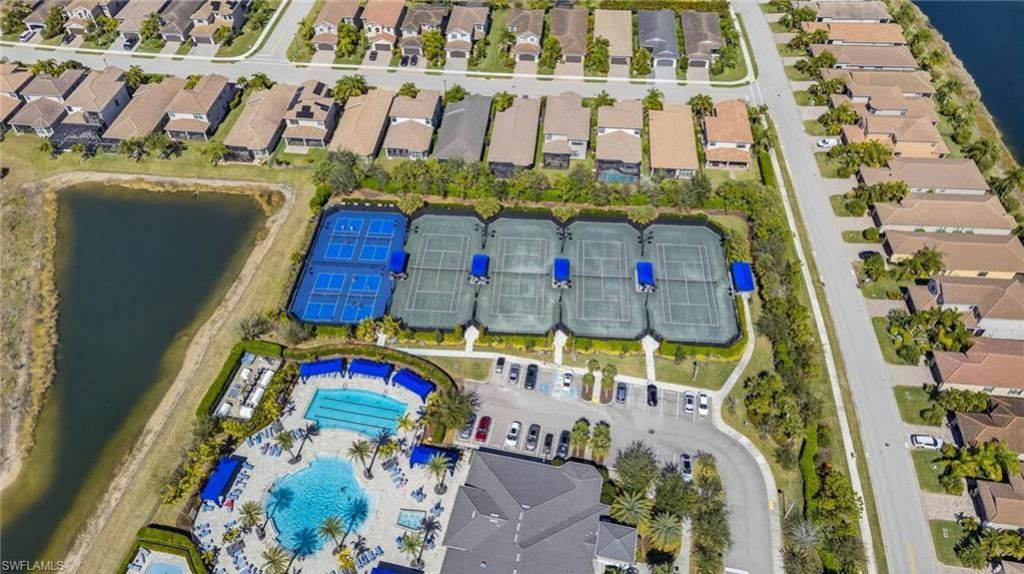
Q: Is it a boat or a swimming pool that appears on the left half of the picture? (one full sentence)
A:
The feature located on the left half of the picture is a swimming pool.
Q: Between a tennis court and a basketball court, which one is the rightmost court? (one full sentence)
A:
Looking closely, the rightmost court is a tennis court.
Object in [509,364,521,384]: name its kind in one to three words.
vehicle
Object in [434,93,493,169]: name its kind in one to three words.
house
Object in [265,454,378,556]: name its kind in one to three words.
swimming pool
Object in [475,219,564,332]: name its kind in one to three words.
tennis court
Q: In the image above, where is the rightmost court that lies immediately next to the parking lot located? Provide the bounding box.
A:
[643,225,738,343]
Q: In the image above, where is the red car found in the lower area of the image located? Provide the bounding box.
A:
[477,417,491,441]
